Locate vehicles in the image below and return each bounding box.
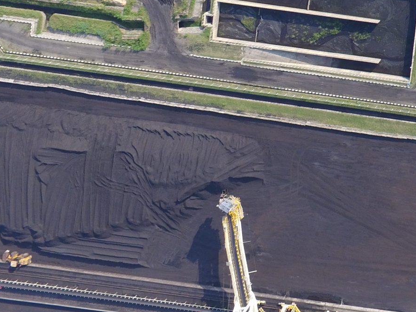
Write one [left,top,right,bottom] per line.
[278,291,314,312]
[7,247,34,262]
[215,188,271,312]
